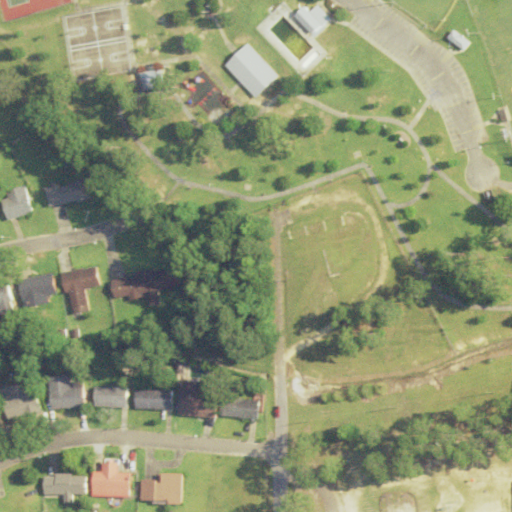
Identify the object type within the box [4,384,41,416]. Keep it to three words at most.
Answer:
house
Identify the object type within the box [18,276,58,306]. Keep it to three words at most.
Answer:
house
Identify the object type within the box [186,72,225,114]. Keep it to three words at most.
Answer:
playground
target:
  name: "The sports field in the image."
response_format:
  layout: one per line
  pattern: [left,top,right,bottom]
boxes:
[284,192,386,365]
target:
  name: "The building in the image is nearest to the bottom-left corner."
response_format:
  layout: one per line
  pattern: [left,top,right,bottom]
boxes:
[42,475,88,502]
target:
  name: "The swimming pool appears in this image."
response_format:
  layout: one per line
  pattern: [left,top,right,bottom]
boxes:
[258,2,327,76]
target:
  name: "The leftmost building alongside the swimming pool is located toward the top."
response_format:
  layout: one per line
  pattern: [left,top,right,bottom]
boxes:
[224,44,278,98]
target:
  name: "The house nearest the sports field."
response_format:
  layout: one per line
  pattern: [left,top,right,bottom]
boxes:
[219,398,262,418]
